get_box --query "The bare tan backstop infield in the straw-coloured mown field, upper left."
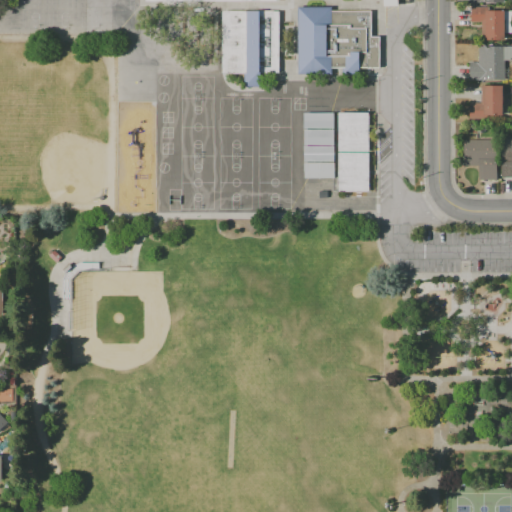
[0,42,110,205]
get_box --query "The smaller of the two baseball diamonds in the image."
[72,270,170,369]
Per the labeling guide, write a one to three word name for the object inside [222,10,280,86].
building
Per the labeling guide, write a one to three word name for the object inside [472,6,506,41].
house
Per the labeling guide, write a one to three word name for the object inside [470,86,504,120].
house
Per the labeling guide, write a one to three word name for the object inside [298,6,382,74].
building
